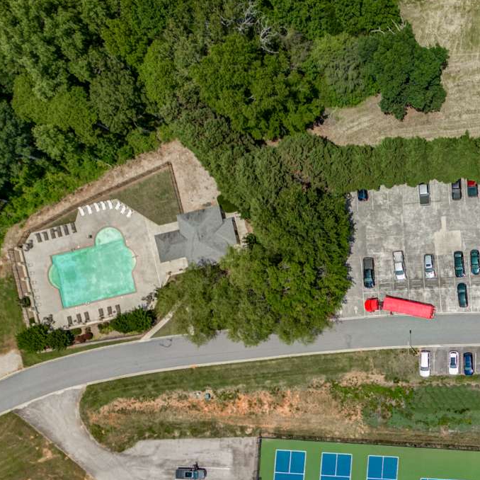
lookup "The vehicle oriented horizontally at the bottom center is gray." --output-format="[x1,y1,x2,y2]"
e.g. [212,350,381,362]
[175,468,208,480]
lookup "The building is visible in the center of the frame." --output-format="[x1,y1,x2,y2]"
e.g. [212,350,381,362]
[154,207,241,268]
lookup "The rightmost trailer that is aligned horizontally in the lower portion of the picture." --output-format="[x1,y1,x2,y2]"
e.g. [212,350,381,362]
[384,296,437,319]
